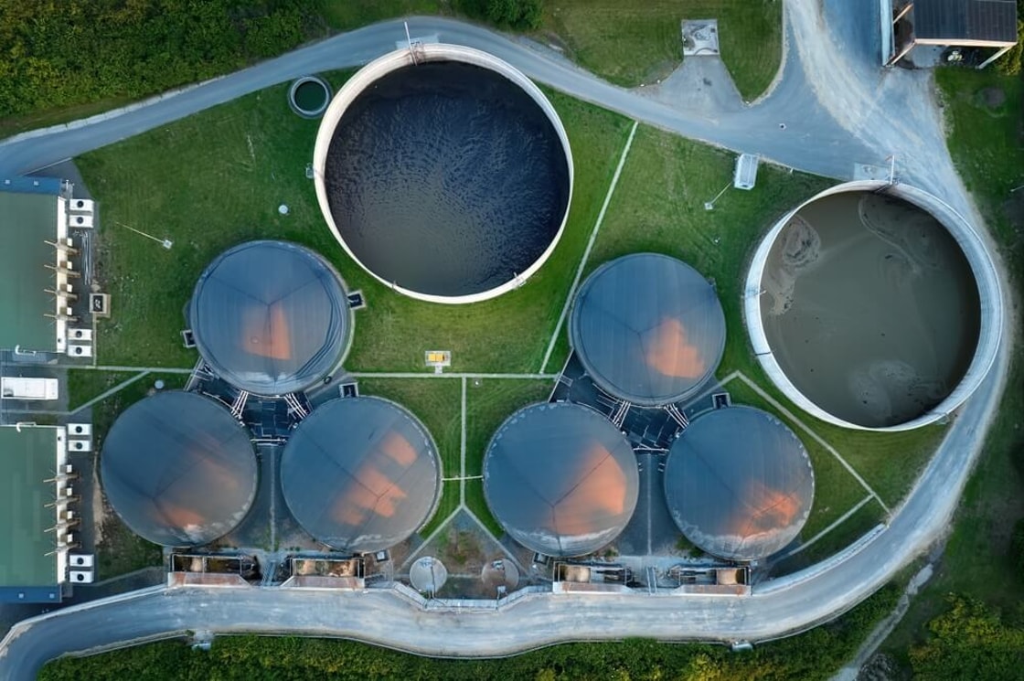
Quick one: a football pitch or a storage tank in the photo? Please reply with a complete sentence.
I can see a storage tank in this picture.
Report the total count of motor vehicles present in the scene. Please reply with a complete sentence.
The picture shows 1 motor vehicle.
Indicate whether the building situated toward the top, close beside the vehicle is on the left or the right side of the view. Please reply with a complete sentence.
The building situated toward the top, close beside the vehicle sits on the left side.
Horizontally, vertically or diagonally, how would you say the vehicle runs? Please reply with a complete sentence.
Seen from above, the vehicle lies horizontally.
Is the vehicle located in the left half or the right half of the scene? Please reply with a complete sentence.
The vehicle appears in the left half of the scene.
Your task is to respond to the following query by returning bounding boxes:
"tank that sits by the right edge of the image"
[745,155,1003,429]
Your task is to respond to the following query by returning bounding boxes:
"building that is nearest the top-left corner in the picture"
[0,178,80,362]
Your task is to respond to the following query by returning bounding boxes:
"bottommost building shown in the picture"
[0,421,80,602]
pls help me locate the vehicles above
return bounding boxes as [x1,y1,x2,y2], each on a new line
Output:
[2,374,72,401]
